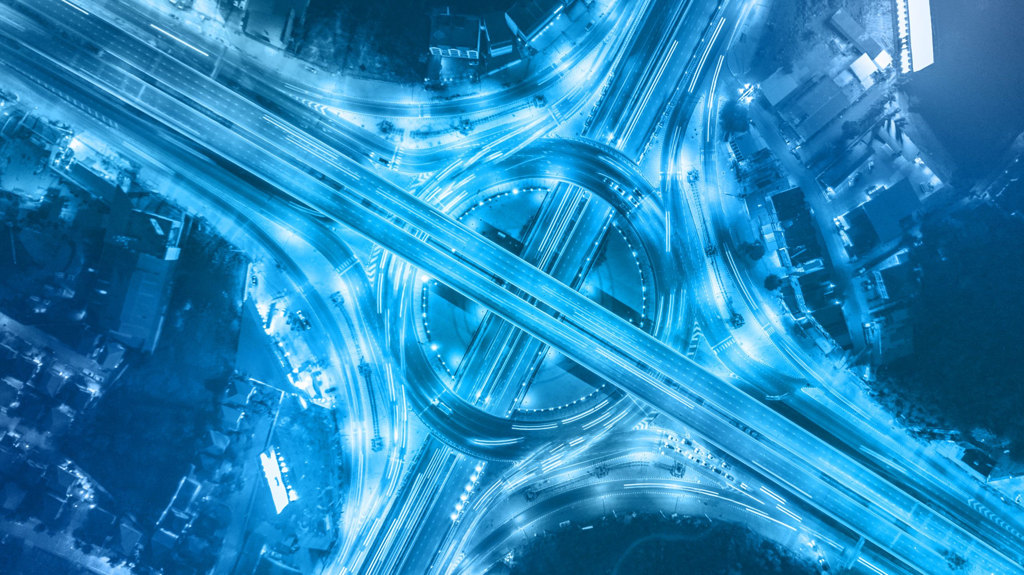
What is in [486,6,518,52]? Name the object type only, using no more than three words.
house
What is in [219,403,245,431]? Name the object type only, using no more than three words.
house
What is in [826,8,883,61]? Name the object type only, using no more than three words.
shed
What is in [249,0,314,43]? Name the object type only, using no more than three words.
building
